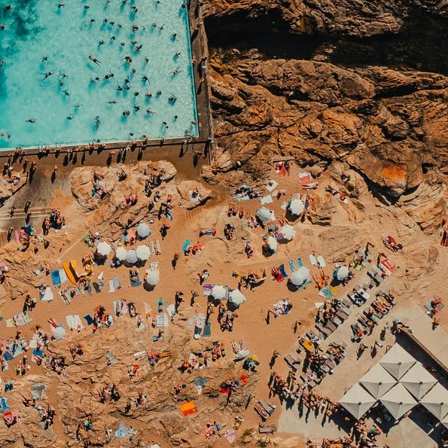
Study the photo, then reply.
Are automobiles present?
No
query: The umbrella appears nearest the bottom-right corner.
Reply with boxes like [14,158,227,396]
[331,265,350,281]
